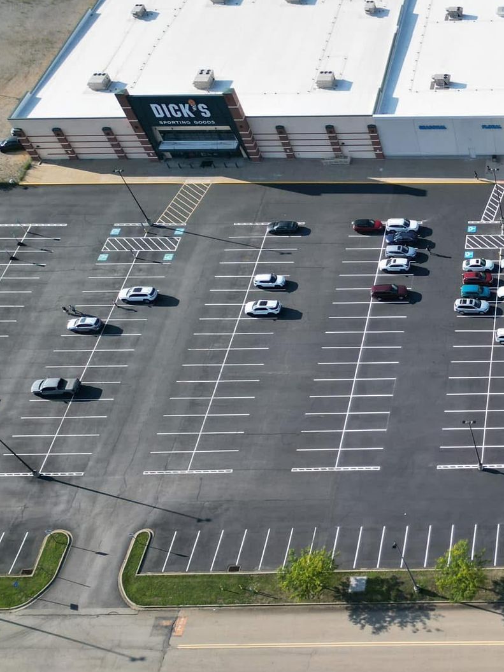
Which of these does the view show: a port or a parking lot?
parking lot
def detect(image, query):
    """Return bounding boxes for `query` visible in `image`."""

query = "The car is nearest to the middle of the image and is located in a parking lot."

[244,301,282,317]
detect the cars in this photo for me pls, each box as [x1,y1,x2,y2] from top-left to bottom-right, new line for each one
[494,328,504,345]
[0,137,26,155]
[461,272,494,286]
[66,317,104,334]
[352,221,383,234]
[379,259,411,275]
[253,275,287,290]
[386,232,418,247]
[370,284,408,302]
[119,288,158,304]
[386,218,419,234]
[462,260,494,273]
[460,284,491,300]
[497,288,504,301]
[385,245,417,260]
[244,301,282,317]
[268,221,300,236]
[454,298,490,316]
